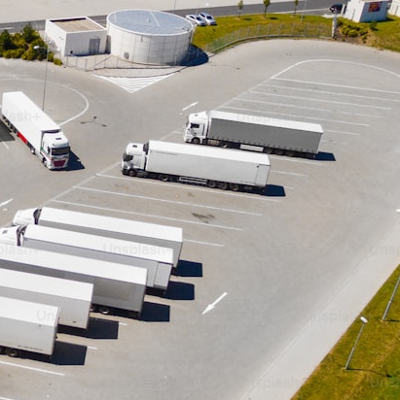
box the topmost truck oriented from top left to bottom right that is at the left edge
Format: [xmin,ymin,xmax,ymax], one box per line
[2,90,73,170]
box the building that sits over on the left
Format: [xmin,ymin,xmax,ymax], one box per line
[44,16,107,55]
